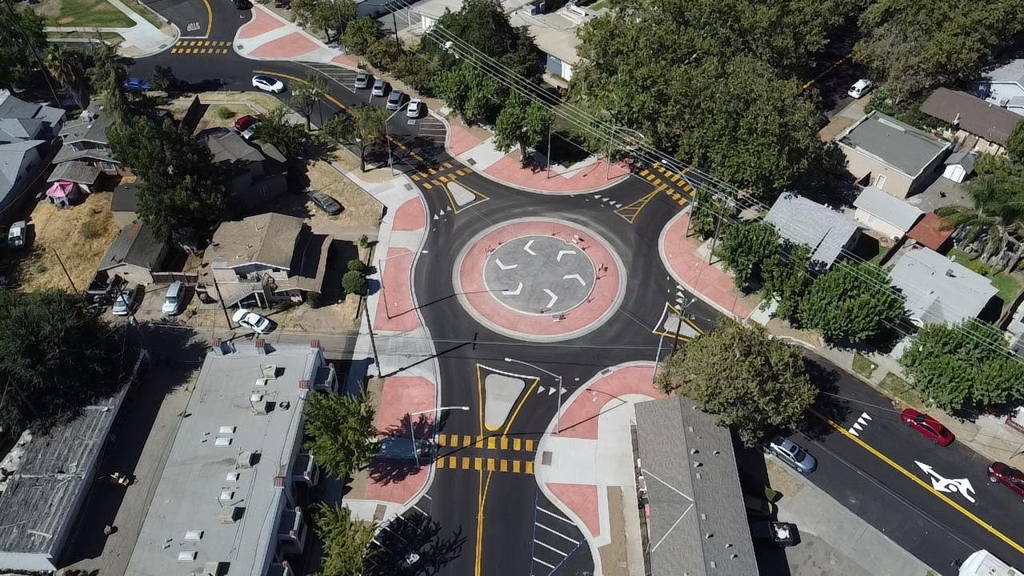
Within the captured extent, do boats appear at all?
No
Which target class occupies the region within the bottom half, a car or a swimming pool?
car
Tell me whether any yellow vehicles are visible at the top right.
No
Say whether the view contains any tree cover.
Yes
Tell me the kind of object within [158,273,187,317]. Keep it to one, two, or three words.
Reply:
van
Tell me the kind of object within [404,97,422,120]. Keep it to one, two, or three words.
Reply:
car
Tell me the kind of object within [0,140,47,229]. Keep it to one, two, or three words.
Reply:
house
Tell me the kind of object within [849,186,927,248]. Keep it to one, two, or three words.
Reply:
building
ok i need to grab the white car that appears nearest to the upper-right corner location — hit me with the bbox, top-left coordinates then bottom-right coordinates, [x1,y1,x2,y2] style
[846,80,874,99]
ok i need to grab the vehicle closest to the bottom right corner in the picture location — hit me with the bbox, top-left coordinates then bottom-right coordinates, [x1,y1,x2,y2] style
[956,550,1019,576]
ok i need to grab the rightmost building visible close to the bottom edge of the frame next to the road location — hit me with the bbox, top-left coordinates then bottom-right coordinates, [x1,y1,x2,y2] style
[634,396,762,576]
